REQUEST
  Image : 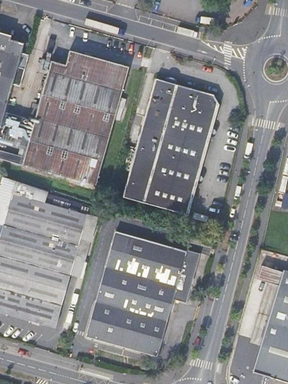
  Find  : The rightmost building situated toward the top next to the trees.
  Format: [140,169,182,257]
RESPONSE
[124,80,219,214]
